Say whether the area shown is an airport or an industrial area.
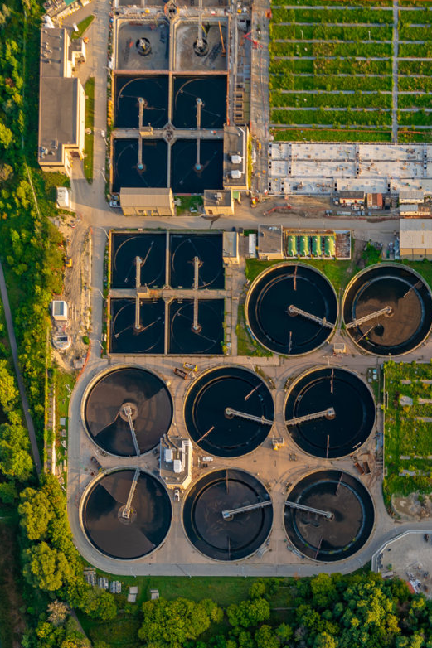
industrial area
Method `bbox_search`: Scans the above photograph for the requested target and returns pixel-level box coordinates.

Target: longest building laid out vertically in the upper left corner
[38,28,86,175]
